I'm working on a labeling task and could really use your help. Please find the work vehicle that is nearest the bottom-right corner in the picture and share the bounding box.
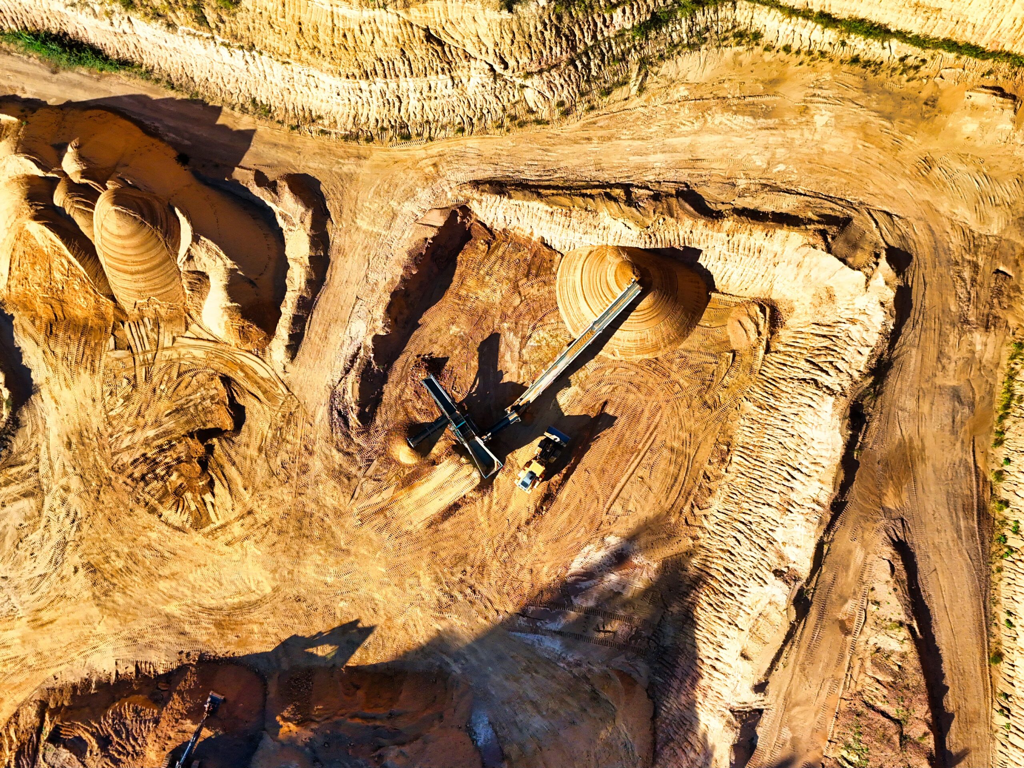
[513,424,570,498]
